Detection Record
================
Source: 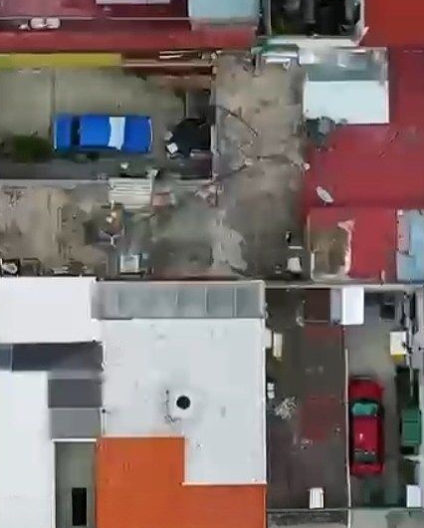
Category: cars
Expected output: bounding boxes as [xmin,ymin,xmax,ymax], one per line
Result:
[347,377,387,479]
[51,111,154,155]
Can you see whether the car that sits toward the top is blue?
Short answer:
Yes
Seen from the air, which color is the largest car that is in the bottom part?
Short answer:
red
